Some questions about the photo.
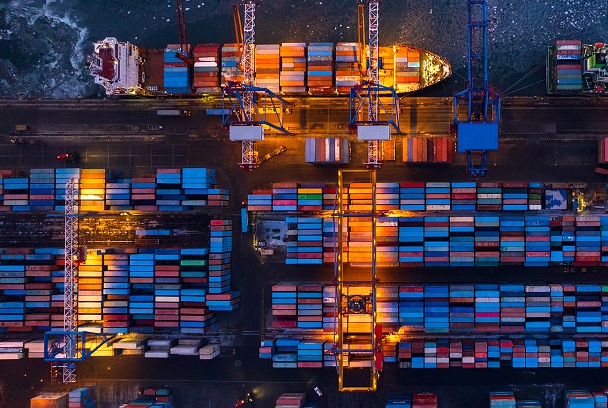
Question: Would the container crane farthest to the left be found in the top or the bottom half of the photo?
bottom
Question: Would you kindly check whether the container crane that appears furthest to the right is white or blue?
blue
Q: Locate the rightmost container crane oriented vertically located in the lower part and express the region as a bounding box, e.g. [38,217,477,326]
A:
[333,169,387,390]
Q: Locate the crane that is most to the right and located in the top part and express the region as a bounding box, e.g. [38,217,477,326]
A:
[446,0,501,183]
